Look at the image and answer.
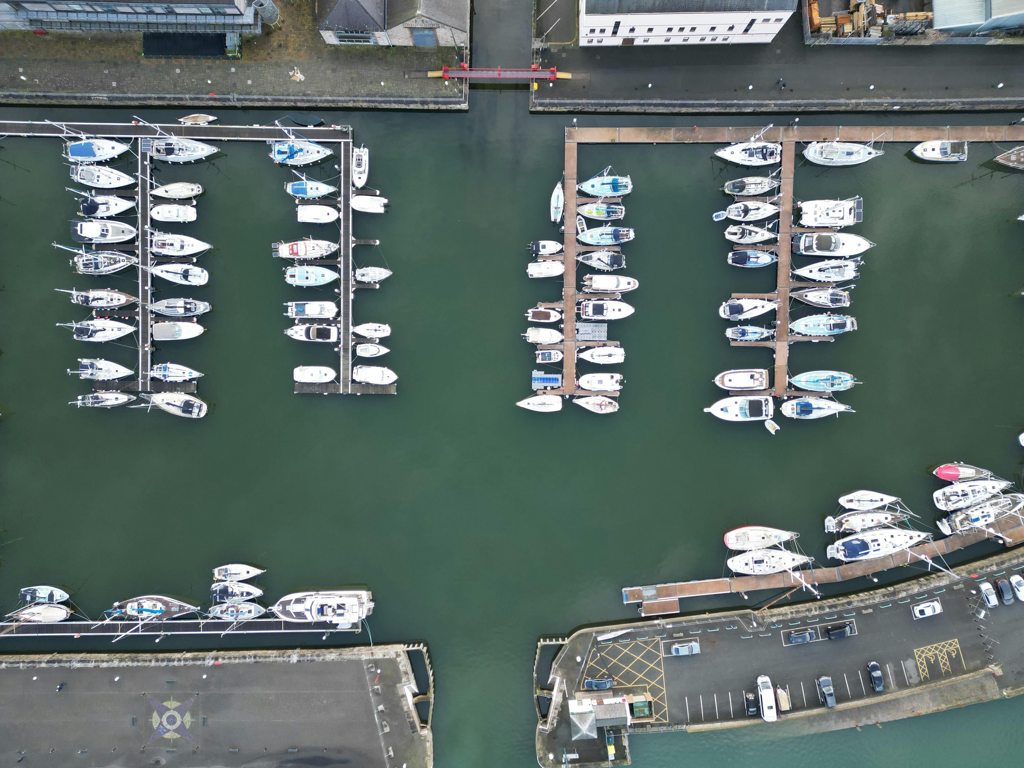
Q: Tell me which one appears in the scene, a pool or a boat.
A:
boat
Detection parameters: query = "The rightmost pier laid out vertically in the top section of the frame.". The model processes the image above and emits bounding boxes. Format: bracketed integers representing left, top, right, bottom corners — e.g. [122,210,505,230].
[774,141,795,396]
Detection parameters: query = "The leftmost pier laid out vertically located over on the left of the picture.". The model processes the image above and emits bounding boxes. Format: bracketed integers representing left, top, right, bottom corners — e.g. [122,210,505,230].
[139,138,152,391]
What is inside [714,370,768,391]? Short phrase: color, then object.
white boat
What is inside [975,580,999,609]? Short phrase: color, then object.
white car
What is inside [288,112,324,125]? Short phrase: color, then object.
blue boat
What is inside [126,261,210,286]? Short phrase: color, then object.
white boat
